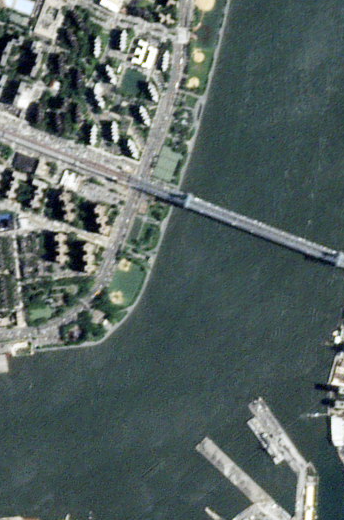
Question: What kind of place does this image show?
port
